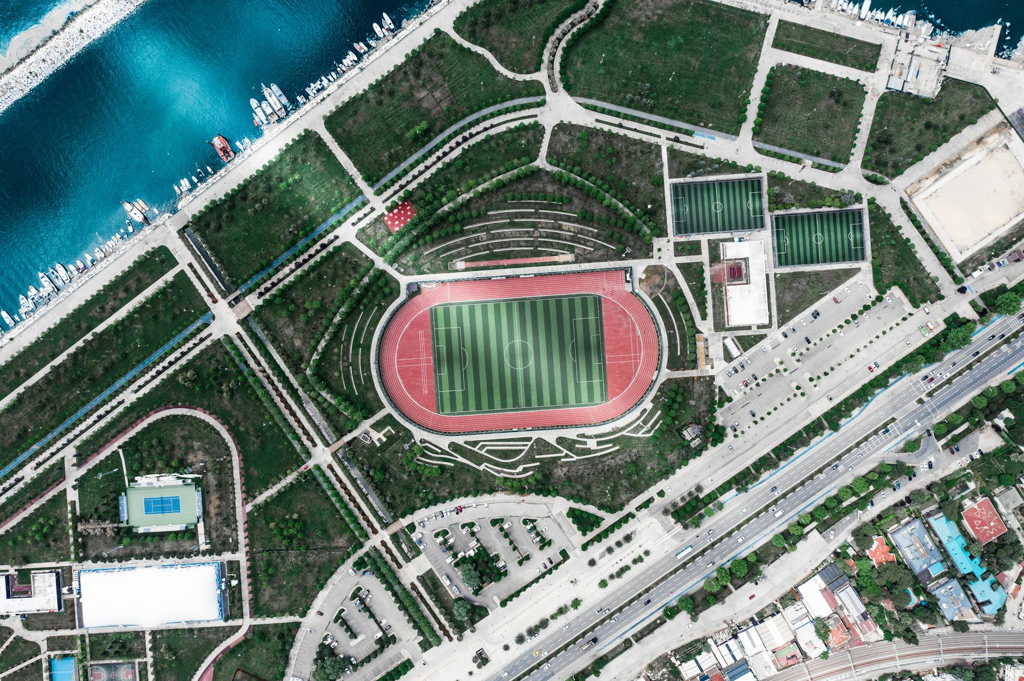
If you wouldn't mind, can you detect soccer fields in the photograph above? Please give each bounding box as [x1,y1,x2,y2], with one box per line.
[771,206,872,269]
[428,294,608,416]
[669,174,770,238]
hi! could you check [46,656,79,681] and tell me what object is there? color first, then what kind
blue tennis court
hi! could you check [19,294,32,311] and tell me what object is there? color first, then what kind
white boat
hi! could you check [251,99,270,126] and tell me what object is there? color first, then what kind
white boat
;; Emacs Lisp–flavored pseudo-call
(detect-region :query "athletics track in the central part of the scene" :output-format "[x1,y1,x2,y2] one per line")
[380,271,659,434]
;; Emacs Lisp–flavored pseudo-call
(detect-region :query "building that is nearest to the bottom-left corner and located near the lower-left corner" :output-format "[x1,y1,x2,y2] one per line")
[0,566,68,614]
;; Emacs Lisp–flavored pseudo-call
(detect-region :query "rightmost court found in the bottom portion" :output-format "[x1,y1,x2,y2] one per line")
[118,476,204,537]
